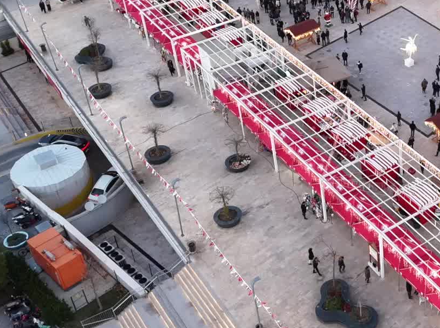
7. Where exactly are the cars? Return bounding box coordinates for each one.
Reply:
[34,125,88,151]
[91,166,122,203]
